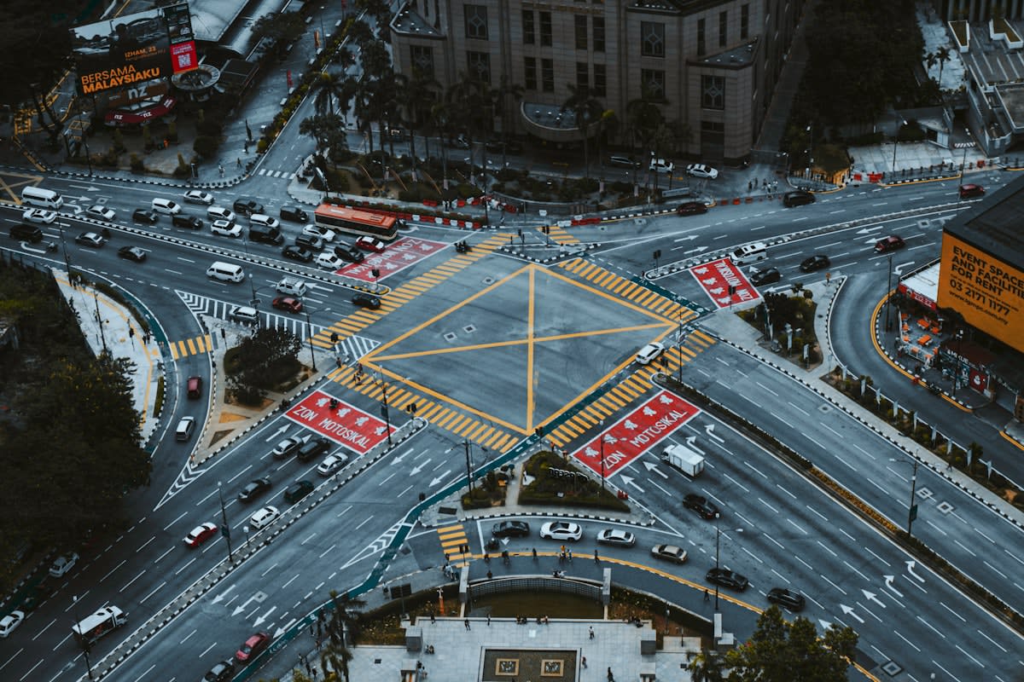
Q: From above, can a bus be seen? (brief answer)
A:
Yes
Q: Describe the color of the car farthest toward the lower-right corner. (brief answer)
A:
black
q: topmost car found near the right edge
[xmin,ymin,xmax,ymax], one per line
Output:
[953,185,989,200]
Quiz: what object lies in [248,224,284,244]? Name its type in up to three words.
car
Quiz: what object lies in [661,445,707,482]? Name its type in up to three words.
truck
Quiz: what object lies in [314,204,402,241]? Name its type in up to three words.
bus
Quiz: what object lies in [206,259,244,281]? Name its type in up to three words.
vehicle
